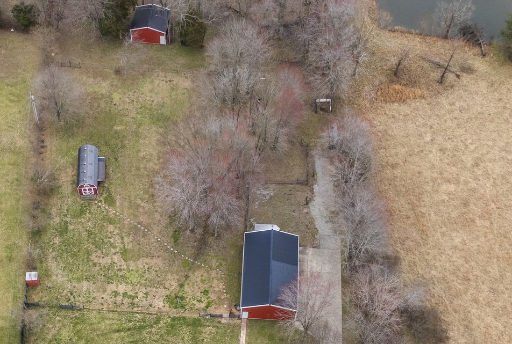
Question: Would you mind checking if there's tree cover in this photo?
Yes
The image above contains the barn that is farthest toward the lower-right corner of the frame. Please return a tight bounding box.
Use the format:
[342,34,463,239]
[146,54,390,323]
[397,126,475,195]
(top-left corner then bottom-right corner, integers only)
[240,226,302,320]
